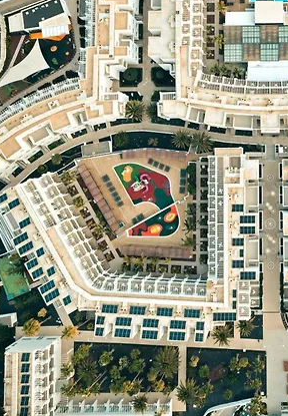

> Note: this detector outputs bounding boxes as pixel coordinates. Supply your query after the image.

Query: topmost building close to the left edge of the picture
[8,0,77,38]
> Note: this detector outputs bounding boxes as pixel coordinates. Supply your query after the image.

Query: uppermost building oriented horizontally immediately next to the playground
[81,141,115,157]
